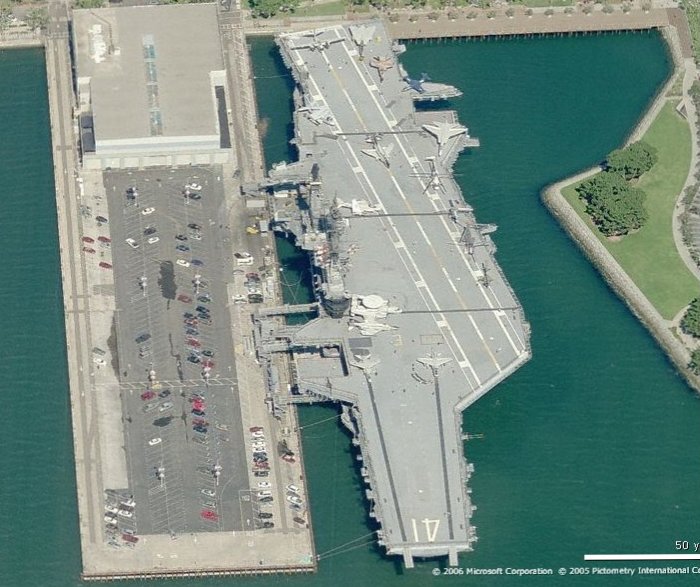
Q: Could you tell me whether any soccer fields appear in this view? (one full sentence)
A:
No, there is no soccer field in the image.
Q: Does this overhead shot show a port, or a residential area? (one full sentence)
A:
The area seen from above is a port.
